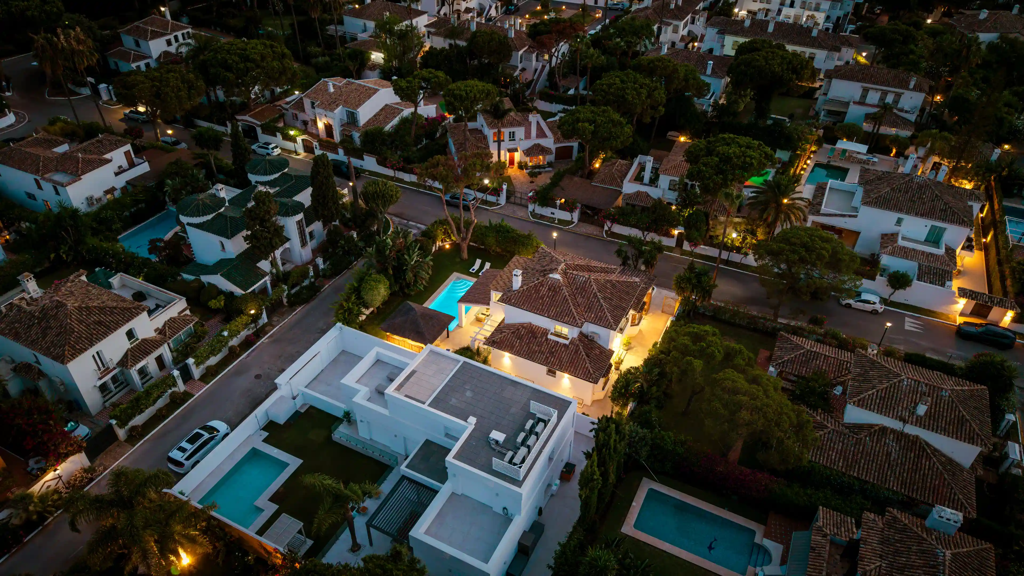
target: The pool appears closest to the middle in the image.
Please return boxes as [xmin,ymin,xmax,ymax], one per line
[422,272,479,334]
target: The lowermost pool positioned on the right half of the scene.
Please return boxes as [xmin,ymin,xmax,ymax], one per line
[619,477,782,576]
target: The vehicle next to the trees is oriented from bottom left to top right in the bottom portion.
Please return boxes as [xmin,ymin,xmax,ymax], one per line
[166,421,228,472]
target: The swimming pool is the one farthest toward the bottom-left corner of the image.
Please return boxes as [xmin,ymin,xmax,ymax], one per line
[194,432,303,531]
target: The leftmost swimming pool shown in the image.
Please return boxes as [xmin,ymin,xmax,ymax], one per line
[113,205,188,265]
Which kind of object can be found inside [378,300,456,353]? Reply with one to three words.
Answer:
building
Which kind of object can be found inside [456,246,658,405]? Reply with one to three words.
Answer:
house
